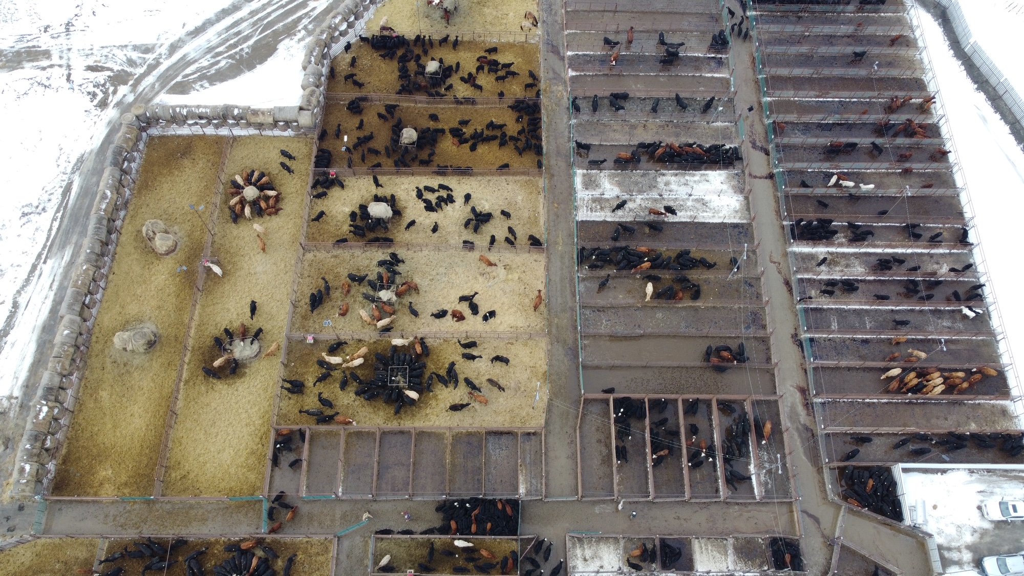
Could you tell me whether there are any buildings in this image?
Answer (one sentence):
No, I can see no building in this picture.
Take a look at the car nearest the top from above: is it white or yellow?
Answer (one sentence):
In this view, the car nearest the top is white.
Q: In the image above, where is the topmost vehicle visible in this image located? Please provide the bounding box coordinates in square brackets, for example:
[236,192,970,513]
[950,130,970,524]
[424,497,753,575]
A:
[977,497,1024,522]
